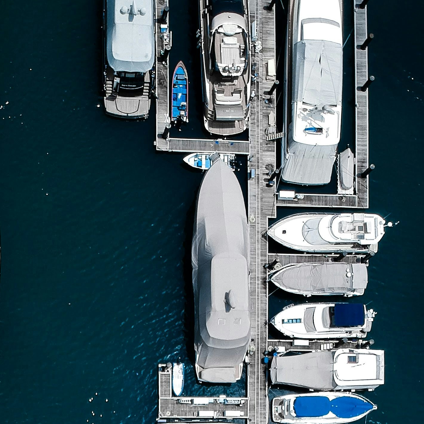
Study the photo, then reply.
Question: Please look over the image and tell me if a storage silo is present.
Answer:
No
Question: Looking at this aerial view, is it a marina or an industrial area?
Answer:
marina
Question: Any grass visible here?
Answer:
No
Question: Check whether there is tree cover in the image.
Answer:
No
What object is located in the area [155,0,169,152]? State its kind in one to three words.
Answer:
pier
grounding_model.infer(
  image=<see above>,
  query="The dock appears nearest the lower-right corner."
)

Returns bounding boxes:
[268,340,369,359]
